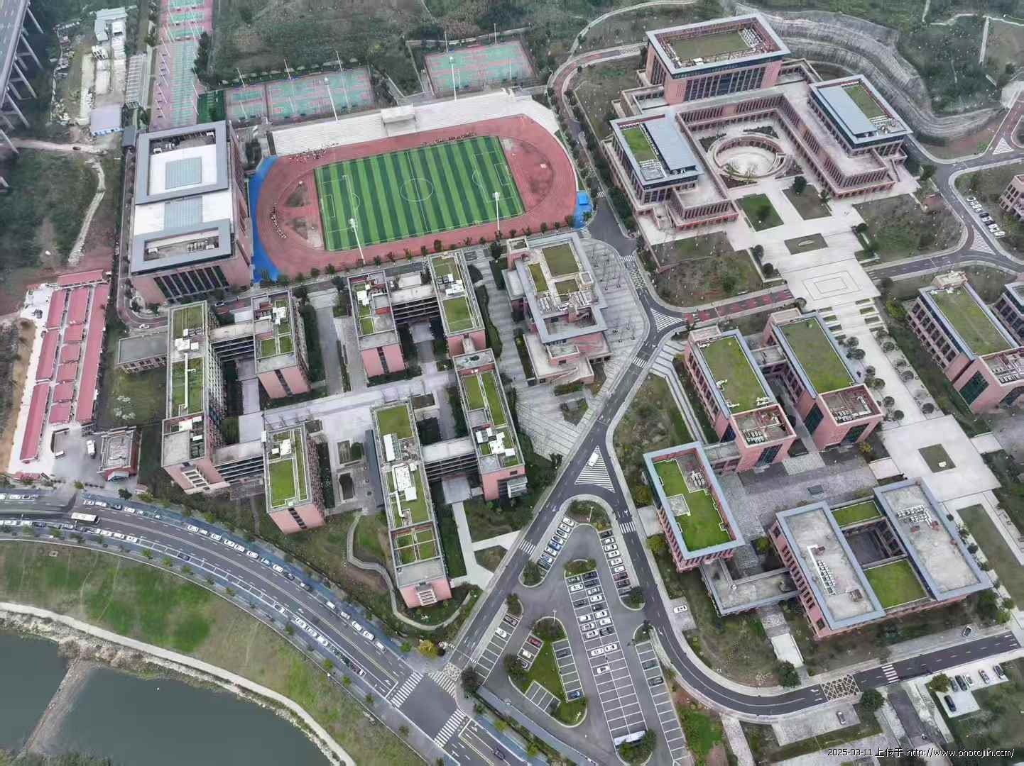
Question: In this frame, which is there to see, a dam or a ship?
dam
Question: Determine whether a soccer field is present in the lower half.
No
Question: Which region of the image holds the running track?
top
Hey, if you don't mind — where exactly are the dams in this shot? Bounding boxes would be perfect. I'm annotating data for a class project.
[28,660,91,750]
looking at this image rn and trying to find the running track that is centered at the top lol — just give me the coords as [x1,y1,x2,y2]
[257,114,578,278]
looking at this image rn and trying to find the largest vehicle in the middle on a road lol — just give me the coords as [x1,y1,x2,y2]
[587,450,600,467]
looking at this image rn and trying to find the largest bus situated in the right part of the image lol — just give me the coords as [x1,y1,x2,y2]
[613,729,647,749]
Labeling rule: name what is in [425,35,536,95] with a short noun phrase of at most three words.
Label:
basketball court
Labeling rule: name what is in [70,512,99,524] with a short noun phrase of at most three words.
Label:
vehicle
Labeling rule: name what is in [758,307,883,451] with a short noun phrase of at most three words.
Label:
building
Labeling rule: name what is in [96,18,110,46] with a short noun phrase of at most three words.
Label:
shed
